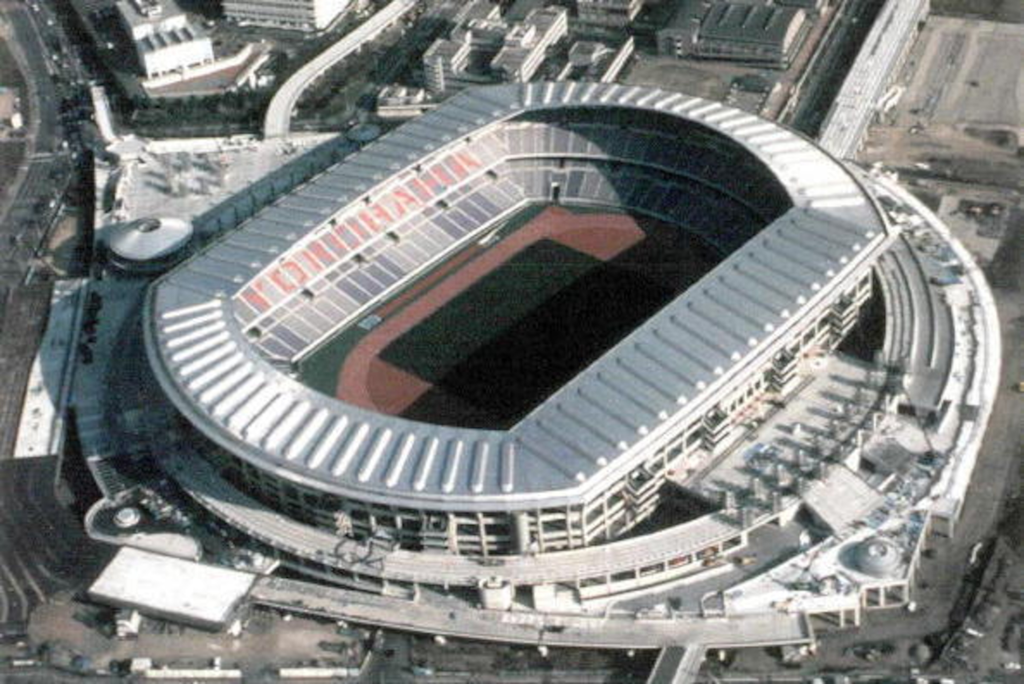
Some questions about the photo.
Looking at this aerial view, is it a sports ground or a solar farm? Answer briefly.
sports ground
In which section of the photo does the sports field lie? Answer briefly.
center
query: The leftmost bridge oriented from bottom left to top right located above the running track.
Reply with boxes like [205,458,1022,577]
[264,0,417,137]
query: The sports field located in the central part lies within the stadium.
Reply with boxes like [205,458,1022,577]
[377,238,674,422]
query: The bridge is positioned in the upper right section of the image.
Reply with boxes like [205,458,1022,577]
[818,0,929,165]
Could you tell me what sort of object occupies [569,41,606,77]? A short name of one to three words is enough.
house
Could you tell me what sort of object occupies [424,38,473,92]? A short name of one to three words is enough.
building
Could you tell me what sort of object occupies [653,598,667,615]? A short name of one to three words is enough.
vehicle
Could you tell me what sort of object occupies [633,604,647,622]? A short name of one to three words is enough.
vehicle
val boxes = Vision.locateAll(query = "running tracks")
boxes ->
[338,215,703,430]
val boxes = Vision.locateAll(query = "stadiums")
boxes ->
[151,83,887,559]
